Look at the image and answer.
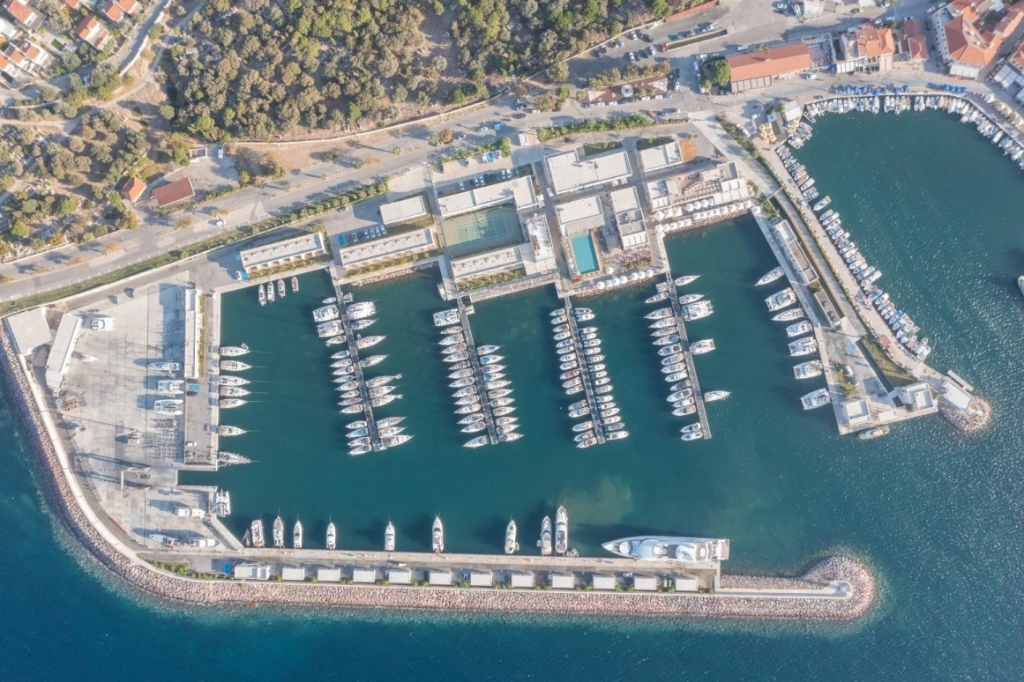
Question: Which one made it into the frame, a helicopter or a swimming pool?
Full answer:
This aerial view contains a swimming pool.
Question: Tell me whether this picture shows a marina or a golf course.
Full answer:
It's a marina.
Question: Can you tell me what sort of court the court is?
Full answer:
The court in the image is a tennis court.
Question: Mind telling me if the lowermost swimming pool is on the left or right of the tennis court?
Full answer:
The lowermost swimming pool can be seen on the right of the tennis court.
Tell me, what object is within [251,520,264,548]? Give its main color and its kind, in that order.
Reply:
white boat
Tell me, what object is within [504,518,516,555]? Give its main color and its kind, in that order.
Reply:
white boat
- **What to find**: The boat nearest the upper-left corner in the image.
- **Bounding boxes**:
[92,318,117,330]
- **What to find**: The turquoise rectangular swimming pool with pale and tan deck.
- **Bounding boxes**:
[563,230,606,285]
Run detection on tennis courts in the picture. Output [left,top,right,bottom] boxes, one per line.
[442,202,522,258]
